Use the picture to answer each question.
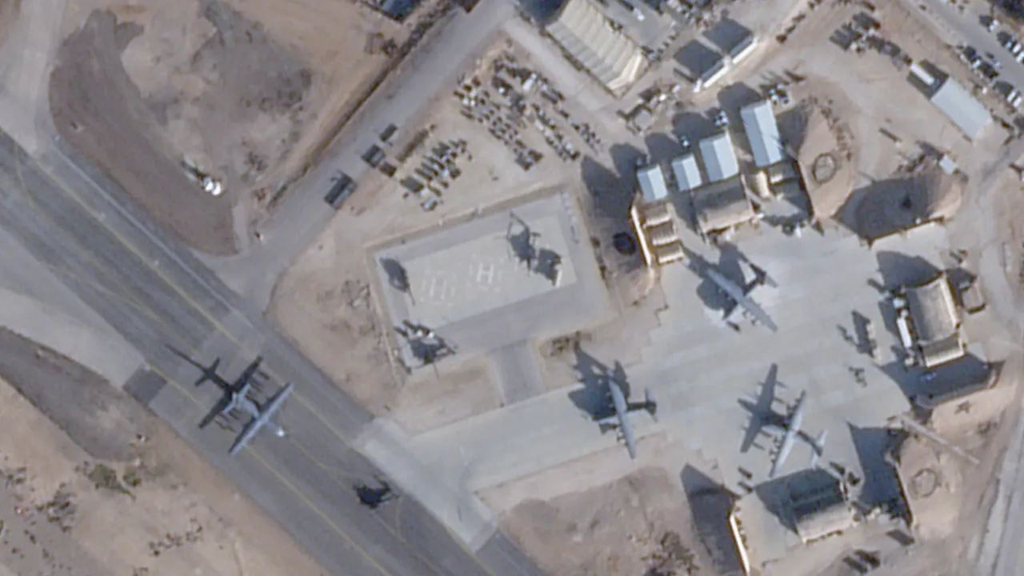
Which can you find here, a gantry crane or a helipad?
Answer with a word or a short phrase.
helipad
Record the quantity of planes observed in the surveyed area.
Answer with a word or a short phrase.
4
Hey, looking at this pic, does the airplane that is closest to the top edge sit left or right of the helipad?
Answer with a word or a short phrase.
right of it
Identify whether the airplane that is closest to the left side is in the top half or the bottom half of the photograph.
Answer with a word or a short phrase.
bottom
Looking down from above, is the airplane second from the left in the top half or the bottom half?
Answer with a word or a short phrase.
bottom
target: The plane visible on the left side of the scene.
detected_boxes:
[221,379,293,455]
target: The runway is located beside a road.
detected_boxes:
[0,131,548,576]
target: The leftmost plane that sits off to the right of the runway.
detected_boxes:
[596,368,664,459]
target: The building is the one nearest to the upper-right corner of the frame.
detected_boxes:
[932,78,991,140]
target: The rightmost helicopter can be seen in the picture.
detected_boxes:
[510,230,550,276]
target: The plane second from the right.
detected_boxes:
[705,257,781,331]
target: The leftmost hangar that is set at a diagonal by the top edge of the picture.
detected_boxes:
[544,0,643,96]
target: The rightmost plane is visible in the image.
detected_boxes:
[763,389,831,477]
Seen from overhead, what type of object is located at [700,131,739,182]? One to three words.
shed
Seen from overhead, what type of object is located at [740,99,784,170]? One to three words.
shed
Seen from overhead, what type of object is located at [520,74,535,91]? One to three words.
vehicle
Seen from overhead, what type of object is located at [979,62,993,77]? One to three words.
vehicle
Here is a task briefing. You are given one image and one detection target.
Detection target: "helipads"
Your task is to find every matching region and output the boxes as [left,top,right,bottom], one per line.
[376,192,613,405]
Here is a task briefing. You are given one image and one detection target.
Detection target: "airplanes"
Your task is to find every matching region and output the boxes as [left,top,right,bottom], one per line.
[221,379,293,455]
[596,368,664,459]
[763,389,831,477]
[705,257,781,331]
